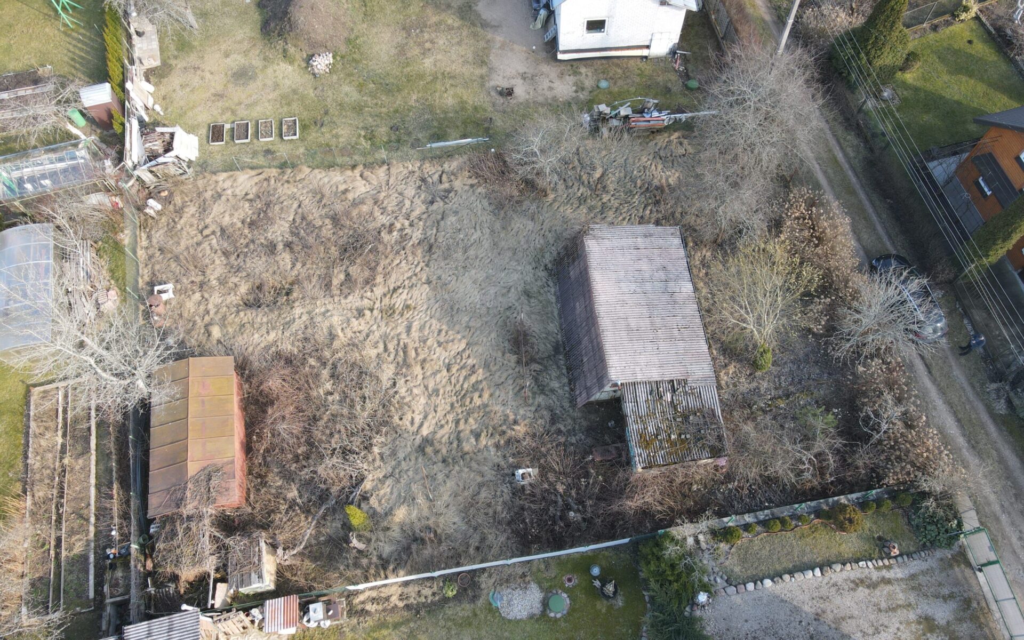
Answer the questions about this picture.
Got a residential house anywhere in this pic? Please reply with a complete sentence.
Yes, there is a residential house in the image.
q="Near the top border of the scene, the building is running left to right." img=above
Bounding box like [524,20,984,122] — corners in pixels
[549,0,691,60]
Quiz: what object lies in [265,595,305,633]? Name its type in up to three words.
shed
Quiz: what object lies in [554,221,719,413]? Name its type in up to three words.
house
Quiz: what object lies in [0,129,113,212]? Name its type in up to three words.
greenhouse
